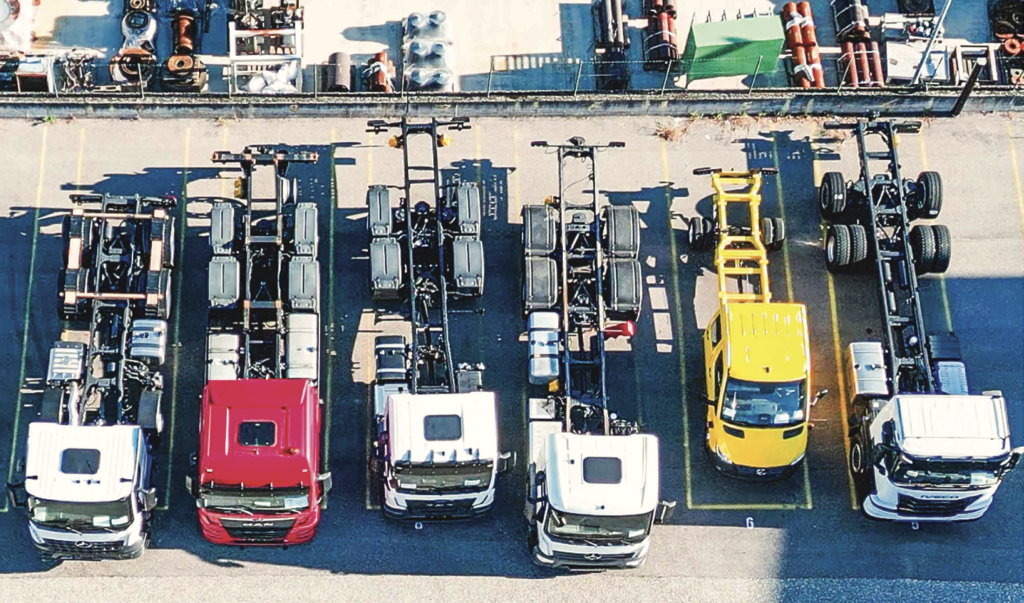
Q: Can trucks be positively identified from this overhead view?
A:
Yes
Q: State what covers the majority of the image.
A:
paved ground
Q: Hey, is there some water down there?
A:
No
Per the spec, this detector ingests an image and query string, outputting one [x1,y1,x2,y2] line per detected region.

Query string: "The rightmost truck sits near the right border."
[823,113,1024,525]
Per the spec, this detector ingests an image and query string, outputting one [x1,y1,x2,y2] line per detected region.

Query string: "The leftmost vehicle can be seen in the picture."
[7,197,176,558]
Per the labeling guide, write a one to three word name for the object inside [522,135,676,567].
truck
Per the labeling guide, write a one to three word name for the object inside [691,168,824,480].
van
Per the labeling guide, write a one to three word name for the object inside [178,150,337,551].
truck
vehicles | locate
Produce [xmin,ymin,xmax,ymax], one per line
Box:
[7,197,176,558]
[522,135,676,567]
[178,150,337,551]
[369,120,516,520]
[823,113,1024,525]
[691,168,824,480]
